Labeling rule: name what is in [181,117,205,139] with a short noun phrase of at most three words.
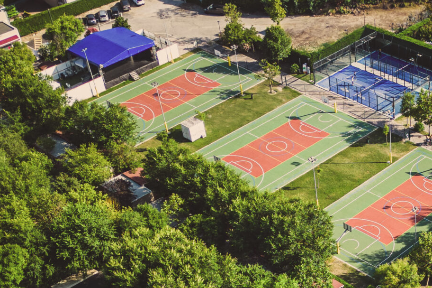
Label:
shed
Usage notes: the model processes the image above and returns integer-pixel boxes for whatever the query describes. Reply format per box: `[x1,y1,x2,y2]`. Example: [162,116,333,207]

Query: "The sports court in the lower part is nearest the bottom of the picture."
[307,147,432,280]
